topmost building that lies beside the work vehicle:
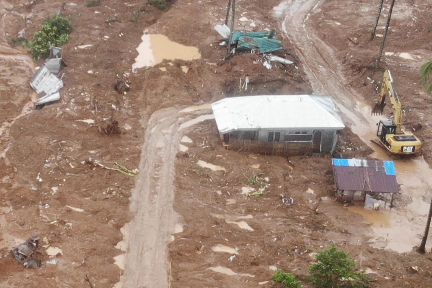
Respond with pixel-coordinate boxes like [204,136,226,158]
[211,94,345,155]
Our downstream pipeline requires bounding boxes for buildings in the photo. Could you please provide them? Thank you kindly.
[30,47,67,106]
[211,94,345,155]
[331,159,398,209]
